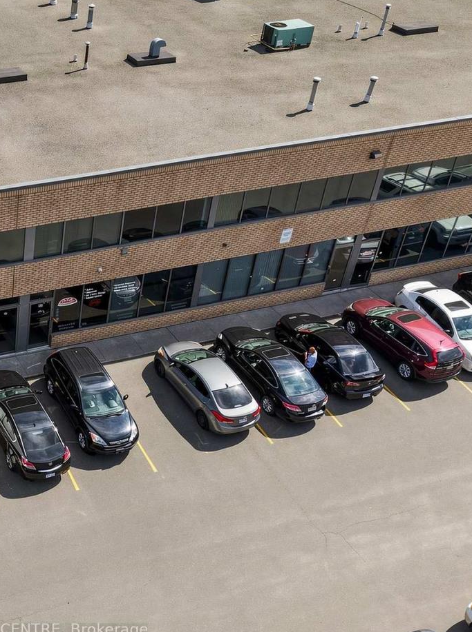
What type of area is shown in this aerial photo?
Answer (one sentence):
This looks like a parking lot.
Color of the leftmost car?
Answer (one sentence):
The color of the leftmost car is black.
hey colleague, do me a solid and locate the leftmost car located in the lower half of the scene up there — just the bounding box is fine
[0,371,63,476]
